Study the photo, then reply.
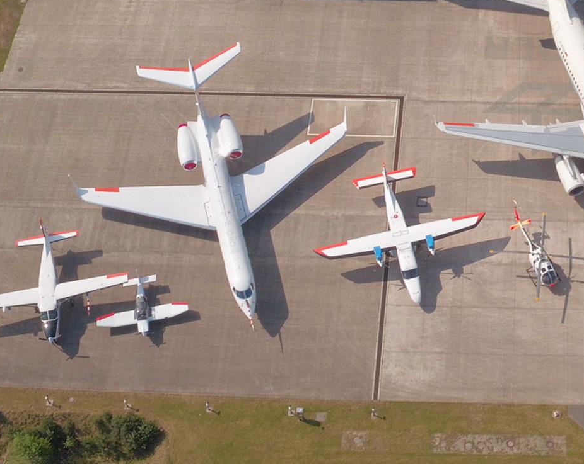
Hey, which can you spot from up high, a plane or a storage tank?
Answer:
plane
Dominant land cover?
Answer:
paved ground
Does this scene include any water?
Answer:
No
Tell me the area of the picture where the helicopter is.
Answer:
right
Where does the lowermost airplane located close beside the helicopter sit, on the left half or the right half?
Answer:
right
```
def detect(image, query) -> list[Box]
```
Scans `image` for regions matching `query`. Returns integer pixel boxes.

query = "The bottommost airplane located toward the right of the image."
[313,158,485,306]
